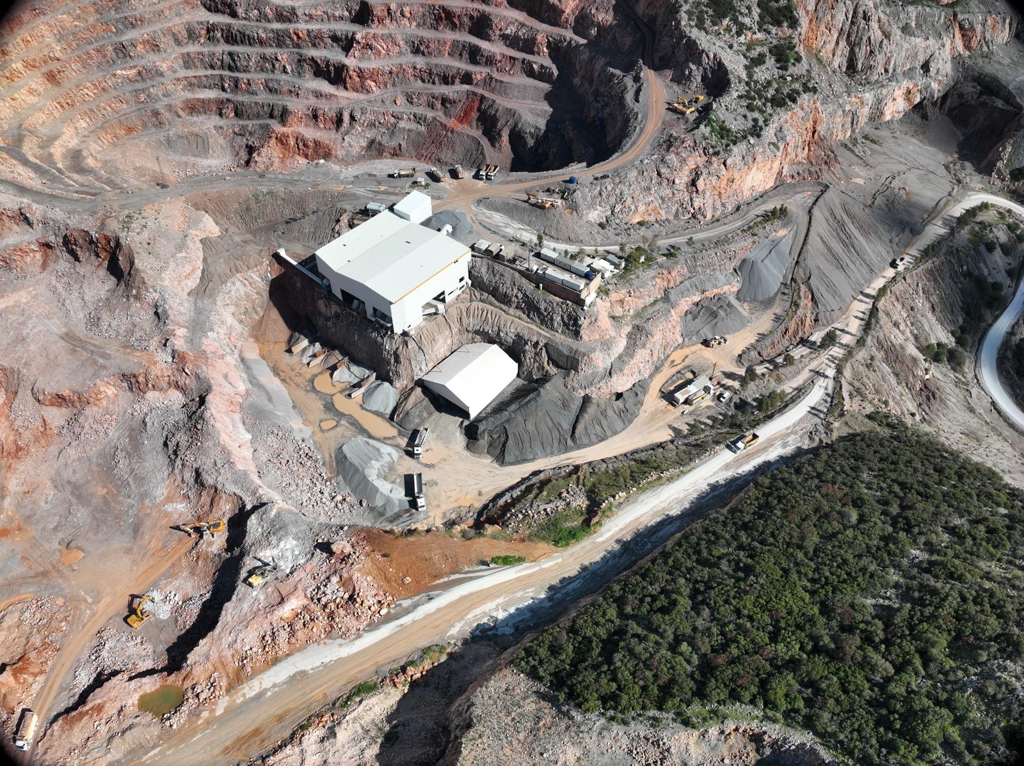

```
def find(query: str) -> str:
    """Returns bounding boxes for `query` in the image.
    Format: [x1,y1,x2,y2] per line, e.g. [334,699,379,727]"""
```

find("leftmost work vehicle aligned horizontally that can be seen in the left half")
[173,520,218,536]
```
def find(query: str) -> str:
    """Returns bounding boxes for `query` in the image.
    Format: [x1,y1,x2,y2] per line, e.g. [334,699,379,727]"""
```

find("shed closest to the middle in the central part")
[422,334,518,421]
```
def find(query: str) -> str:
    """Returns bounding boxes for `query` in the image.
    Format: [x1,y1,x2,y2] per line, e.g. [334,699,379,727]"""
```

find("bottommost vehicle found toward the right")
[731,432,763,454]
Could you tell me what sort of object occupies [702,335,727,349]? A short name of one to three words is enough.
work vehicle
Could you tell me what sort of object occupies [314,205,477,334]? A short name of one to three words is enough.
building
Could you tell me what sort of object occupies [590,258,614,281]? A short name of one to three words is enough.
shed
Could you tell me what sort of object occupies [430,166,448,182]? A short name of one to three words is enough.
vehicle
